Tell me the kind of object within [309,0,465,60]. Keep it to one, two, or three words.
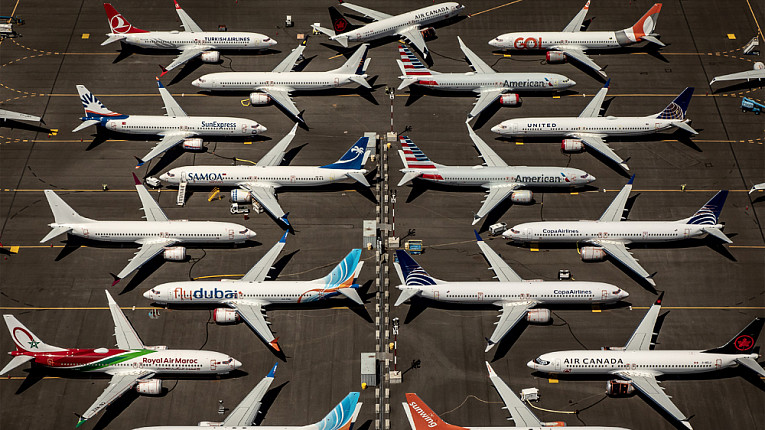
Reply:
airplane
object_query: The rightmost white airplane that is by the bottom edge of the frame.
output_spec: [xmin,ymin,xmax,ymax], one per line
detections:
[527,288,765,430]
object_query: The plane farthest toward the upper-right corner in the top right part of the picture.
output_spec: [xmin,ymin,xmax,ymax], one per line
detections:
[711,58,765,83]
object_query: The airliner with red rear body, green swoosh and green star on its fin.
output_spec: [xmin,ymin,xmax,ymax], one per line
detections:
[0,287,241,428]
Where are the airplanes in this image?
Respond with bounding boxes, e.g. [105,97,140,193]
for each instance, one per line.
[0,287,241,428]
[492,75,699,170]
[397,35,577,122]
[72,74,267,169]
[143,225,363,352]
[309,0,465,60]
[0,112,42,126]
[128,355,363,430]
[393,226,628,353]
[489,0,666,77]
[503,171,733,286]
[527,288,765,430]
[711,58,765,83]
[403,357,631,430]
[159,120,370,225]
[191,34,371,122]
[398,121,595,225]
[100,0,277,77]
[40,170,256,285]
[752,180,765,193]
